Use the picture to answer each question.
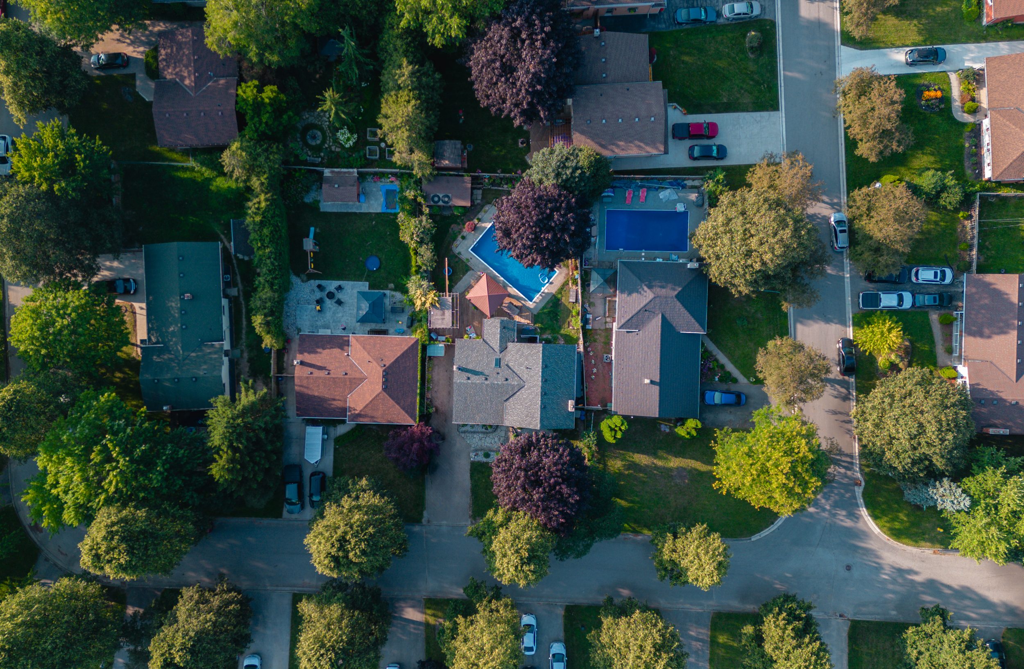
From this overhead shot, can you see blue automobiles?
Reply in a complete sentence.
Yes, a blue automobile is visible in the scene.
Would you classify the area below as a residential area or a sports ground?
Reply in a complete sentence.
The picture captures a residential area.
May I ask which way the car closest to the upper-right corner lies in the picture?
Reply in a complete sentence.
The car closest to the upper-right corner is laid out horizontally.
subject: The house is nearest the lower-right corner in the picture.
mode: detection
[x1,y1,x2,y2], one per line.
[956,271,1024,436]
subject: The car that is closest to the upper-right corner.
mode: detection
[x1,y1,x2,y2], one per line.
[902,45,946,68]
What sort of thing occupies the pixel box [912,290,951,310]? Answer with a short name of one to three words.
car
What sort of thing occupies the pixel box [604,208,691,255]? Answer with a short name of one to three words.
swimming pool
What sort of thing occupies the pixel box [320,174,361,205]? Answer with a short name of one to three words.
shed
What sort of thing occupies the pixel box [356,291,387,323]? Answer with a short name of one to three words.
gazebo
